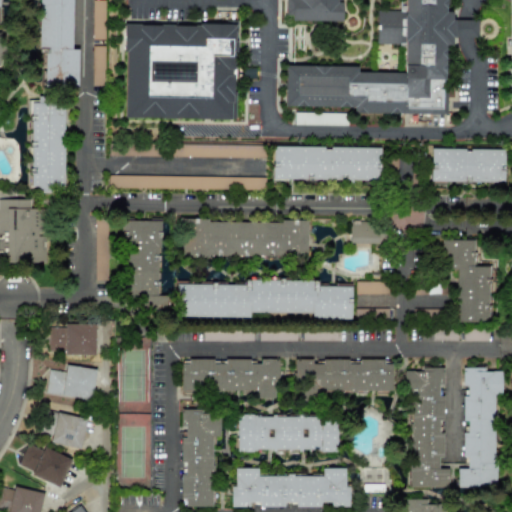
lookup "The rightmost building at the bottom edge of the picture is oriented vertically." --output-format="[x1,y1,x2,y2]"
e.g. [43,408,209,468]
[460,368,504,488]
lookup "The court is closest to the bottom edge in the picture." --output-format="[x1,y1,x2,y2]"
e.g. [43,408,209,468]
[119,414,151,488]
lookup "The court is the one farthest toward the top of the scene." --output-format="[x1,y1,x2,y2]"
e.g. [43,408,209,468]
[119,347,151,412]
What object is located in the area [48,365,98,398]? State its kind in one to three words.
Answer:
house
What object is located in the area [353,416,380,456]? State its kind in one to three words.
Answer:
swimming pool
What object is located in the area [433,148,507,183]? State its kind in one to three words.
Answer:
building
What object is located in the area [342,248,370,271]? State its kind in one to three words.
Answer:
swimming pool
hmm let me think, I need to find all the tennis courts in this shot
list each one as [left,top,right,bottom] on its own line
[119,414,151,488]
[119,347,151,412]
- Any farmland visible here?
No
